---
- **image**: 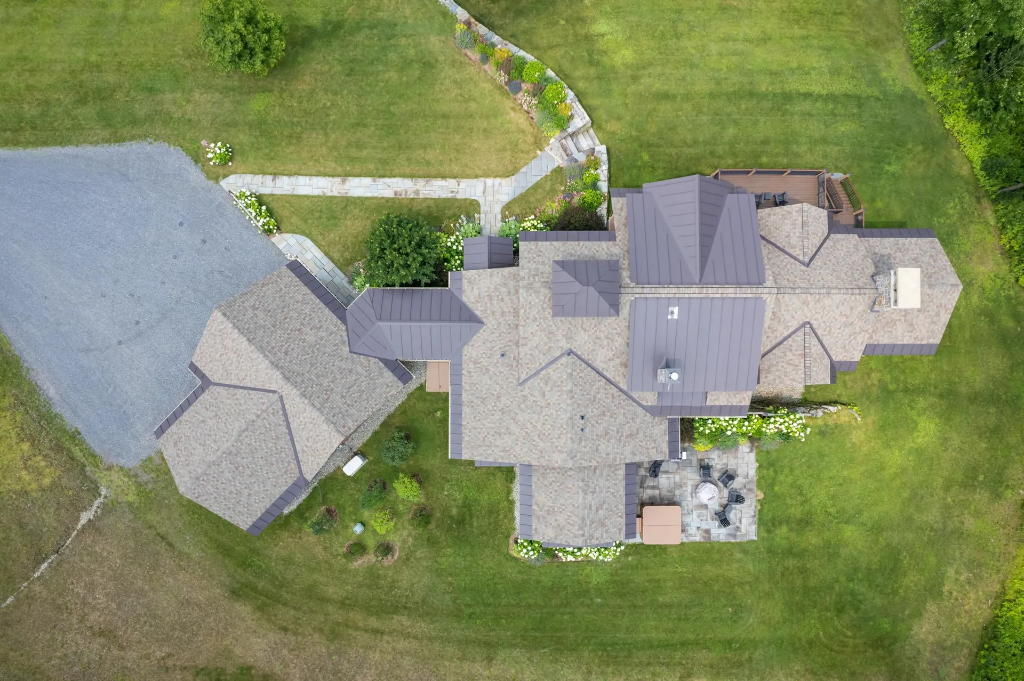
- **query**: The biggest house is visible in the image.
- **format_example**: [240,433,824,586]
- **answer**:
[345,175,962,548]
